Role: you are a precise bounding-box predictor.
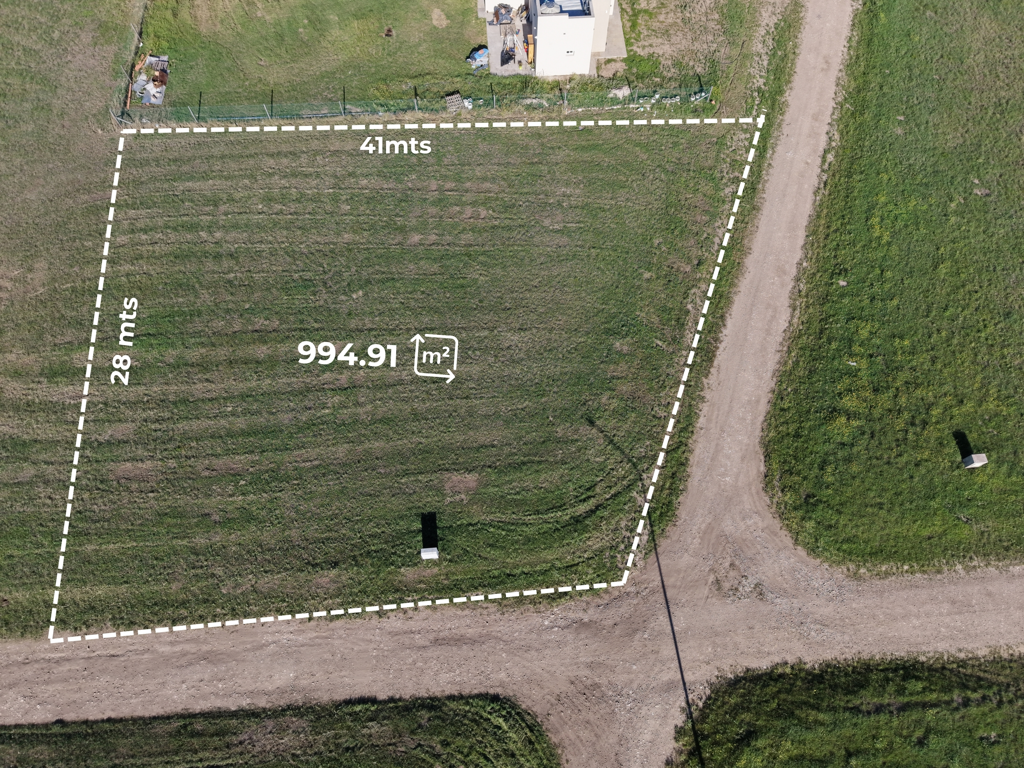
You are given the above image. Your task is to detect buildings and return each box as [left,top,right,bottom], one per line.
[485,0,614,75]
